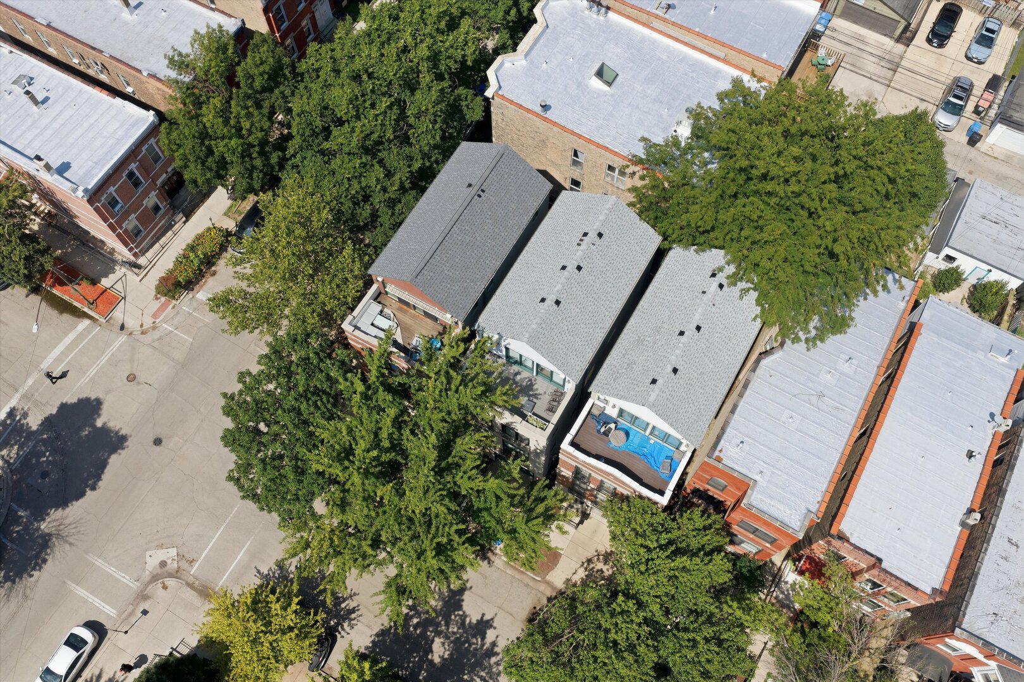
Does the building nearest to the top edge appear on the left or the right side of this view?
right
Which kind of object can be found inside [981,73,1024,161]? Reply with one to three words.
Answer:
building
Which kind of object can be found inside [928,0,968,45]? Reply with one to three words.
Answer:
car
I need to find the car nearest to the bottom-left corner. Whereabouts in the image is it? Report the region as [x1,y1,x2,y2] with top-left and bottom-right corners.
[28,622,100,682]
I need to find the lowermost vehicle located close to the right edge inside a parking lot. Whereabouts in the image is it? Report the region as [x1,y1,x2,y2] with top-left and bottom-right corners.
[938,65,985,128]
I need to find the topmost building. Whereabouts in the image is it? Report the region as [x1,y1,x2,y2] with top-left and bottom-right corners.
[835,0,923,38]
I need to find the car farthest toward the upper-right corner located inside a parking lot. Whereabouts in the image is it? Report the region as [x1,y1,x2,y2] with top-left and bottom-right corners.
[969,5,1011,60]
